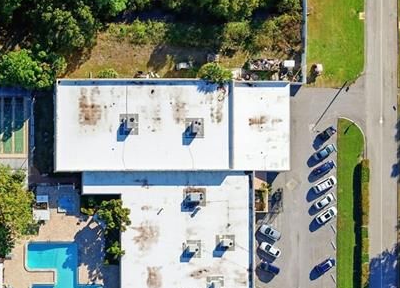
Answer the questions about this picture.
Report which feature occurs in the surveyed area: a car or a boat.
car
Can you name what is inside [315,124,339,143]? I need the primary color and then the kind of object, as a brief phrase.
black vehicle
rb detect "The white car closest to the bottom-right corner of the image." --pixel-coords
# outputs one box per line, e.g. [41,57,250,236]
[315,206,338,224]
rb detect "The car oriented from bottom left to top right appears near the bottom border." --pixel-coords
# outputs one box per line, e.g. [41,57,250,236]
[313,257,335,274]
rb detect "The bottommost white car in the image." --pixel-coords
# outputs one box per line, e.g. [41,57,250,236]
[259,241,281,258]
